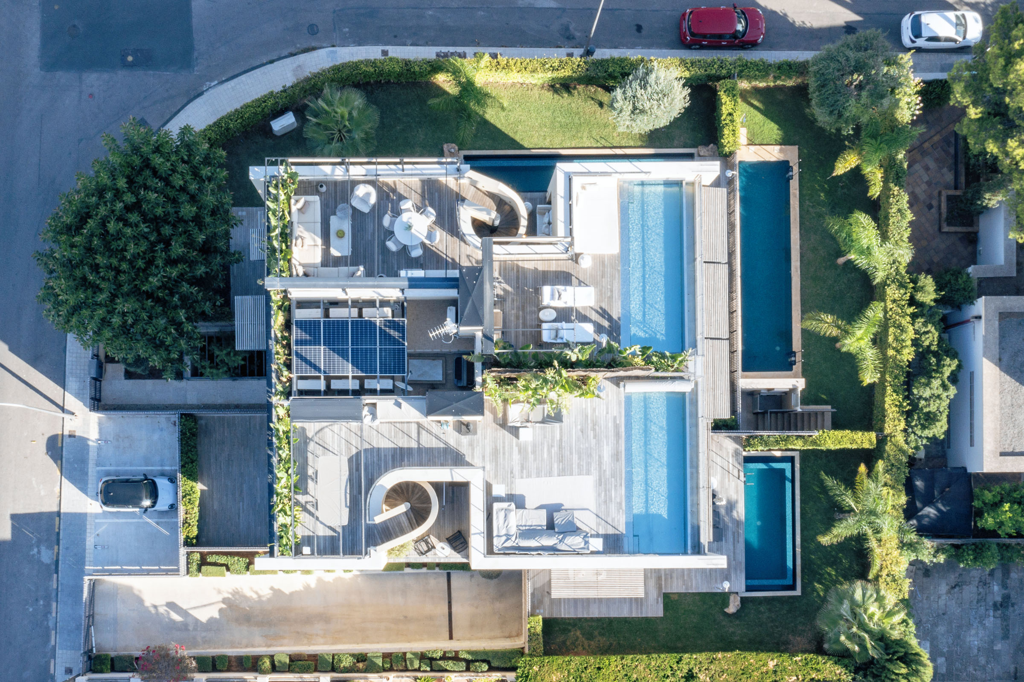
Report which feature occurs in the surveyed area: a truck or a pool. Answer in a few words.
pool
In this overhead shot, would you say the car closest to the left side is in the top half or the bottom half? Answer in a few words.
bottom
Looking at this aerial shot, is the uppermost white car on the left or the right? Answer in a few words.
right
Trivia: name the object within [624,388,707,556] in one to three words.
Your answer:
swimming pool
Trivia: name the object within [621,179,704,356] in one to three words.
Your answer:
swimming pool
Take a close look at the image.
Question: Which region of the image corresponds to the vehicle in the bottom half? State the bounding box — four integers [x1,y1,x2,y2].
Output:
[94,471,176,516]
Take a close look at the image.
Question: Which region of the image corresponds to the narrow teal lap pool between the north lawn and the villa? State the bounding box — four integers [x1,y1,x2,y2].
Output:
[461,150,699,193]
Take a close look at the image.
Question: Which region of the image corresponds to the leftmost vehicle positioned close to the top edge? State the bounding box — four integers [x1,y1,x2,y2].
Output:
[682,0,766,46]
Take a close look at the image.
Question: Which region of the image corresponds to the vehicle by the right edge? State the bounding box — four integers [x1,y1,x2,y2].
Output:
[901,3,989,48]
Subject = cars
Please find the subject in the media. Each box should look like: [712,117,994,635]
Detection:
[901,3,989,48]
[94,471,176,516]
[682,0,766,46]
